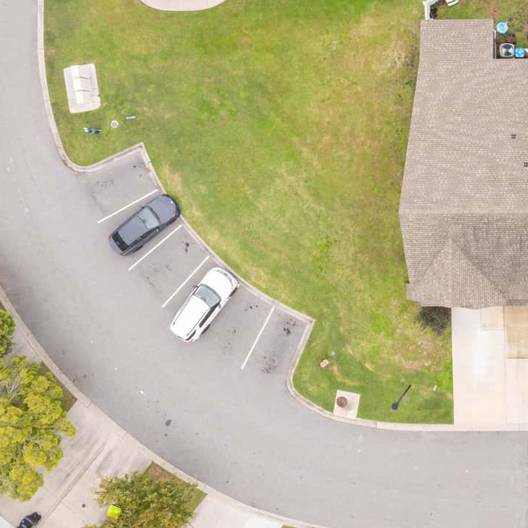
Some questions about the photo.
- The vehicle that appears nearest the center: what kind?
car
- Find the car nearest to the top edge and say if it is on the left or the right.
left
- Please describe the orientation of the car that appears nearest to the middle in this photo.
diagonally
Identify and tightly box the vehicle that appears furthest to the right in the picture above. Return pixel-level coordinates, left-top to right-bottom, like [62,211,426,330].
[170,266,243,344]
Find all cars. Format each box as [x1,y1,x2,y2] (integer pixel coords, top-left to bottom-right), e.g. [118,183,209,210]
[170,266,243,344]
[107,198,186,258]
